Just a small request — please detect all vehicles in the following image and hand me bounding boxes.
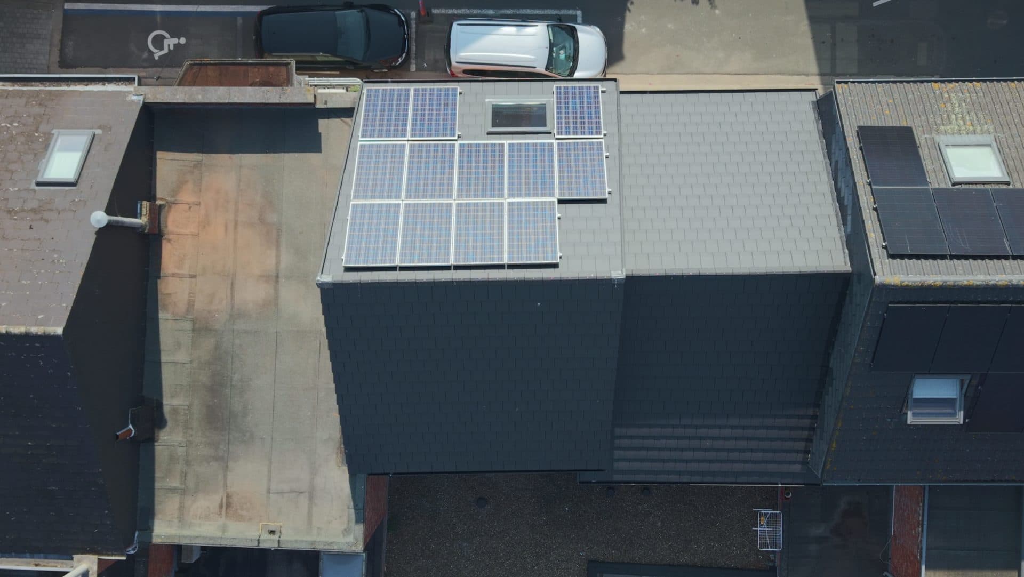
[254,0,412,76]
[446,6,608,78]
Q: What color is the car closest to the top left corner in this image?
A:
black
